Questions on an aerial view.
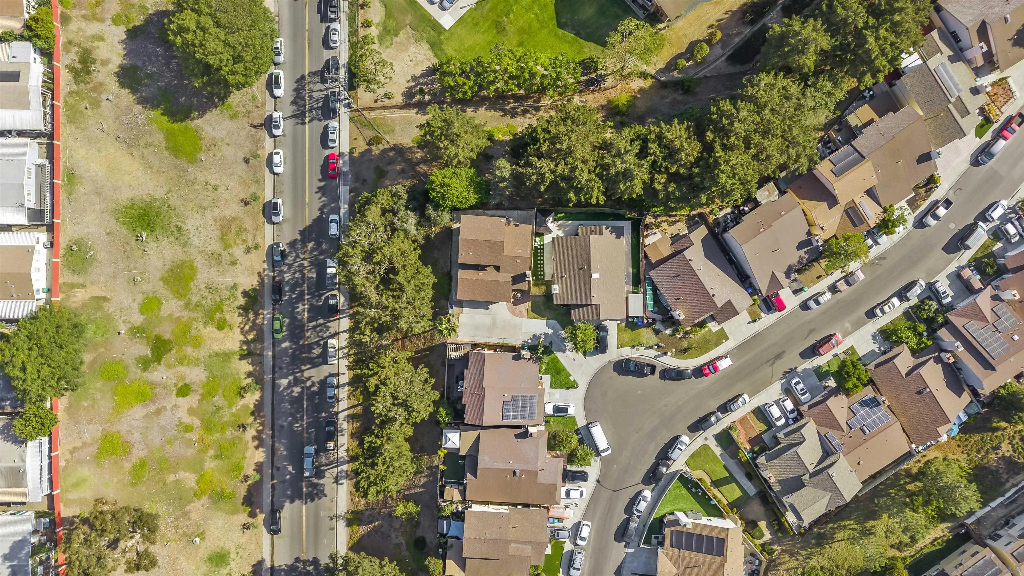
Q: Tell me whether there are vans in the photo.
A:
Yes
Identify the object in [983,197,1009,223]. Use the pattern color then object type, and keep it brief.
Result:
white car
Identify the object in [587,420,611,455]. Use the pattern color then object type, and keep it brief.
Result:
white vehicle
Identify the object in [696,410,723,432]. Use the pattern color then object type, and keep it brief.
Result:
gray car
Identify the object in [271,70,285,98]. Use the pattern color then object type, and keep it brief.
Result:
white car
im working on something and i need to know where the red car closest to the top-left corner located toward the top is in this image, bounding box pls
[327,153,340,179]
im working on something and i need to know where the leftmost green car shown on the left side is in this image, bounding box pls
[272,313,285,340]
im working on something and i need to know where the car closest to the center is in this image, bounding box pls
[597,324,611,354]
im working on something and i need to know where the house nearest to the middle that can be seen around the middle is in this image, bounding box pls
[457,215,532,302]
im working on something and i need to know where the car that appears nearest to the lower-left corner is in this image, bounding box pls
[269,508,282,536]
